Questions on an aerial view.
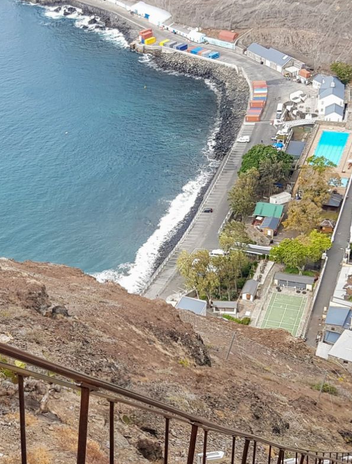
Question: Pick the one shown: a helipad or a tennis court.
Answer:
tennis court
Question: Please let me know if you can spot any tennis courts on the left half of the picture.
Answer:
No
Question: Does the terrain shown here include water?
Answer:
Yes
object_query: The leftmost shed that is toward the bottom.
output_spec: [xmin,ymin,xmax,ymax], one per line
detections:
[174,293,212,323]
